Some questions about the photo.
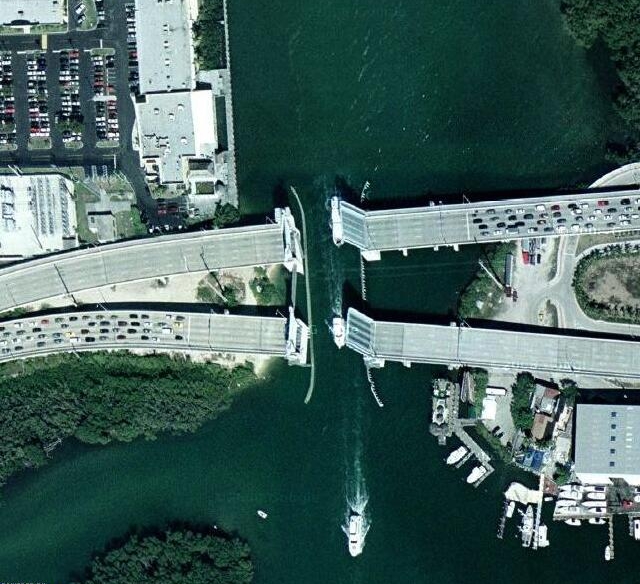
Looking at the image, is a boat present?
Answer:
Yes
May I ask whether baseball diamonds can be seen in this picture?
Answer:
No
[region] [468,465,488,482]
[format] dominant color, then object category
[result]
white boat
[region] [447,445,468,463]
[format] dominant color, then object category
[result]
white boat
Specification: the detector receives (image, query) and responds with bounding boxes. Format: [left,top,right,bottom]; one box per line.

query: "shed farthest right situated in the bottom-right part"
[574,405,640,481]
